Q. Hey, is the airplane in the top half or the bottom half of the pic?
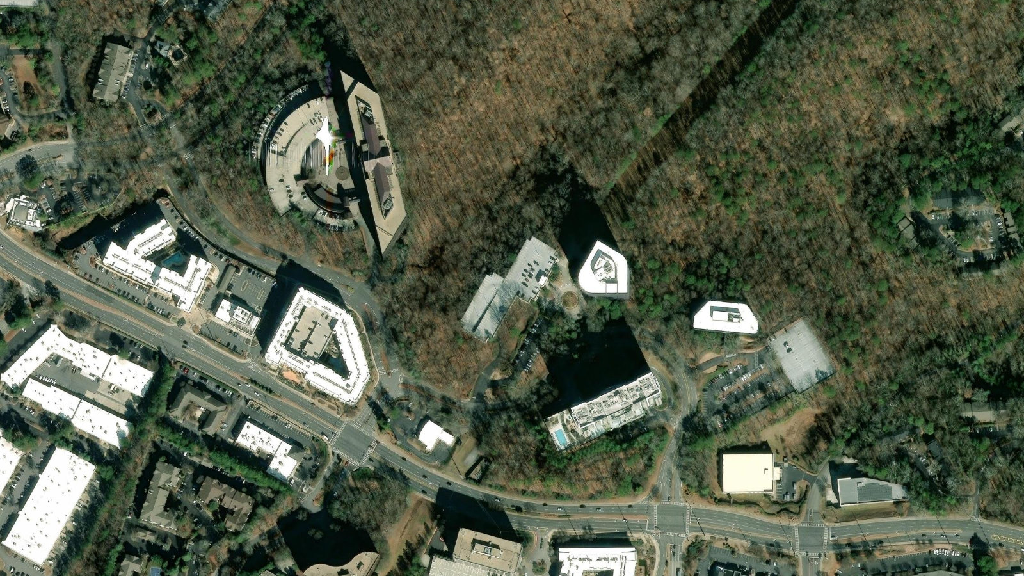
top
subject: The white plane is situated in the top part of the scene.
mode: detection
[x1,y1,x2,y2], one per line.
[316,116,336,176]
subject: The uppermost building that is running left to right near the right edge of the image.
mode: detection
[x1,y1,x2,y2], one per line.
[933,188,984,208]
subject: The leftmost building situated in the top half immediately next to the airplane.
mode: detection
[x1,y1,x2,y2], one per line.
[304,183,350,214]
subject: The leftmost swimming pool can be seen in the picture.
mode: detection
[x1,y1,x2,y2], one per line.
[163,252,183,268]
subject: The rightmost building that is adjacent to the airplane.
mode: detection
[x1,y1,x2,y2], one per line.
[340,71,409,258]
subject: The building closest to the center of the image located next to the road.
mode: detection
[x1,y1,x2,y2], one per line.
[578,240,630,299]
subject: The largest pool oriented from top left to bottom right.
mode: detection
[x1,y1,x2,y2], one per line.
[324,356,344,373]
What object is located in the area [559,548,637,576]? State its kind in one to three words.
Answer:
building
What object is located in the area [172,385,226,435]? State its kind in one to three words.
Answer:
building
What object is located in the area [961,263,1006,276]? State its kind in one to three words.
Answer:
house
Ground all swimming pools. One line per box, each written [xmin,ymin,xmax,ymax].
[163,252,183,268]
[555,429,567,446]
[324,356,344,373]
